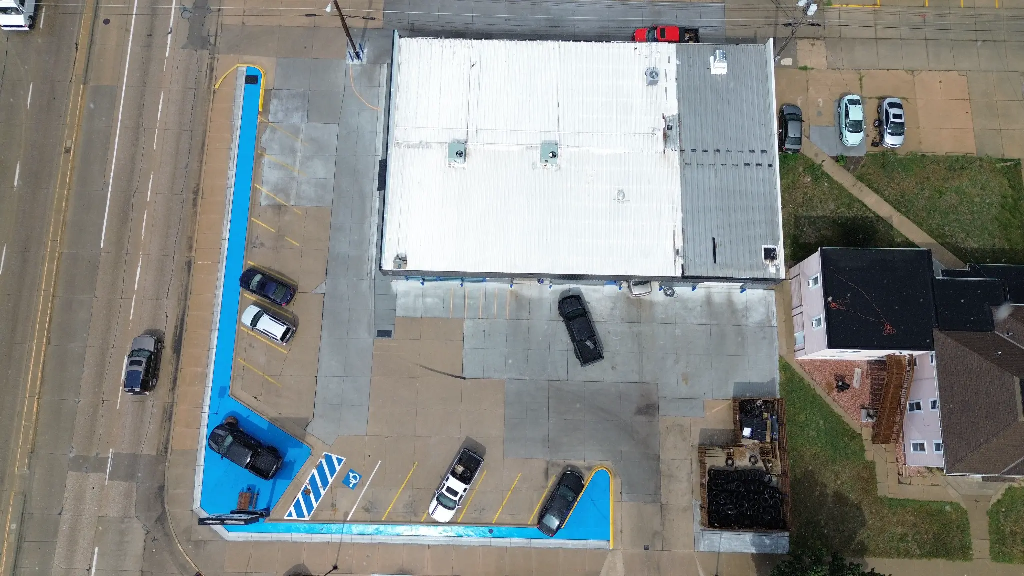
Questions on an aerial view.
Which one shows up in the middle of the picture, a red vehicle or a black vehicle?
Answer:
black vehicle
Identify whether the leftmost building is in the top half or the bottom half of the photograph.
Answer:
top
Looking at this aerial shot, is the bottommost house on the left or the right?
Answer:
right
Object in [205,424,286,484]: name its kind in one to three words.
truck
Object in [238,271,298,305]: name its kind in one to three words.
car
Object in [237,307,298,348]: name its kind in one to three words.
car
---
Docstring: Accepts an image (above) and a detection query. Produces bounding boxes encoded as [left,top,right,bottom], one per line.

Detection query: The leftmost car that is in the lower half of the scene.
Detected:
[121,333,159,395]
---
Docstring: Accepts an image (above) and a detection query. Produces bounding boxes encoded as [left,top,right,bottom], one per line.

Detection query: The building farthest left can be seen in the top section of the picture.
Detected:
[377,22,787,290]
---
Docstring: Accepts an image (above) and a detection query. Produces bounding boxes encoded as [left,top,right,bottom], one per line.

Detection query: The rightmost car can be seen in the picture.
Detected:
[880,96,910,150]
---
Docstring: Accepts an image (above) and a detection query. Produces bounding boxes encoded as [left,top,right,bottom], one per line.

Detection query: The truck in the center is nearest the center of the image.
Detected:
[559,293,605,369]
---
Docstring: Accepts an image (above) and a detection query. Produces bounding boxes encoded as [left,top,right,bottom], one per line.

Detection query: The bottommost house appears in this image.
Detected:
[789,249,1024,494]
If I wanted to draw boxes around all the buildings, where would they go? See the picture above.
[377,22,787,290]
[789,249,1024,494]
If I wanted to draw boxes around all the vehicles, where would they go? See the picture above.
[238,271,298,305]
[837,93,868,149]
[205,424,286,484]
[536,469,584,537]
[0,0,33,31]
[779,105,808,154]
[629,22,701,41]
[237,307,298,348]
[559,293,605,369]
[431,448,486,527]
[880,96,910,150]
[121,333,159,395]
